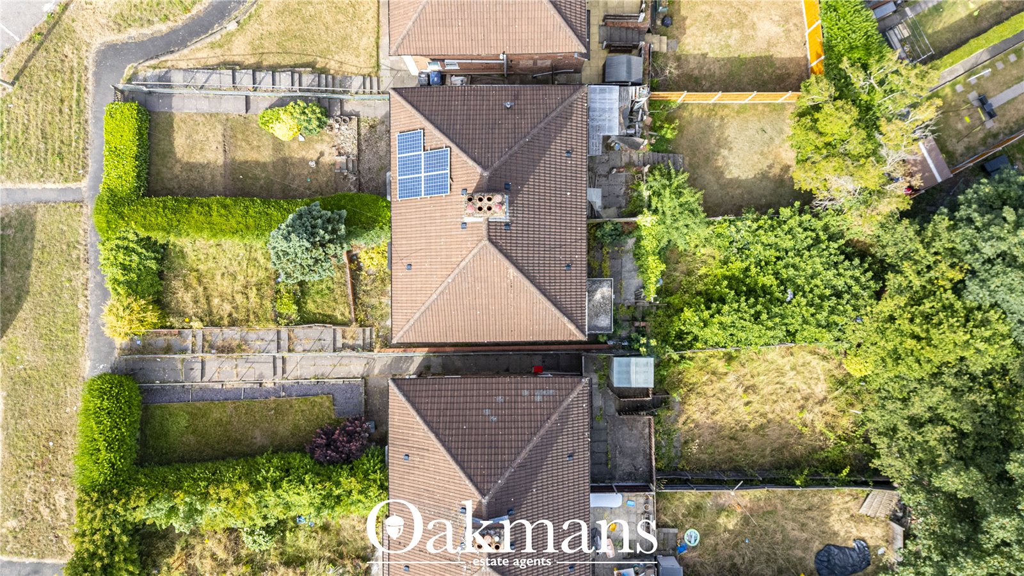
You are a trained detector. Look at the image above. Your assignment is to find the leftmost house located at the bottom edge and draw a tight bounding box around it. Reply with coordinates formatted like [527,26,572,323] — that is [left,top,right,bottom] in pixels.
[387,370,591,576]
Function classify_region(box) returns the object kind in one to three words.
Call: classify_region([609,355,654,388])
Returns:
shed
